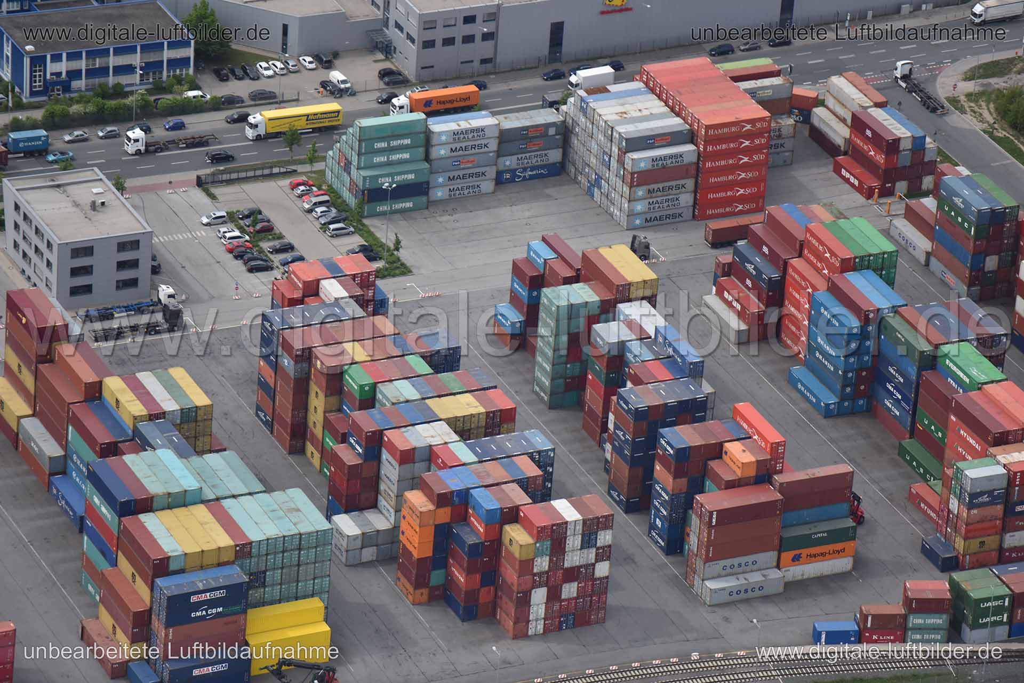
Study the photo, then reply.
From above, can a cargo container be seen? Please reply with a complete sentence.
Yes, a cargo container can be made out from above.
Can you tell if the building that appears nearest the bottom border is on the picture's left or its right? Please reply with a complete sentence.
It is on the left.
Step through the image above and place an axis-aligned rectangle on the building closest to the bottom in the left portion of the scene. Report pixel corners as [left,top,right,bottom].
[4,167,153,312]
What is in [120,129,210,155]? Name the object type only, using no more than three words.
truck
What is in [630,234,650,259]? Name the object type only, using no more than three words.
vehicle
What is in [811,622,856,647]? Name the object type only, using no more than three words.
shipping container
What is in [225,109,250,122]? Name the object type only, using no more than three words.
vehicle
